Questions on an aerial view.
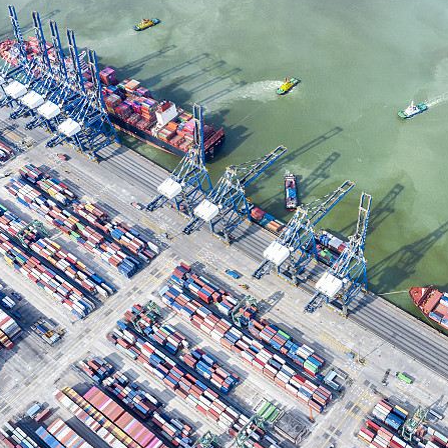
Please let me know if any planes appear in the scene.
No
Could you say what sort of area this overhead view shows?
port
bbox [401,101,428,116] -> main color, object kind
white boat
